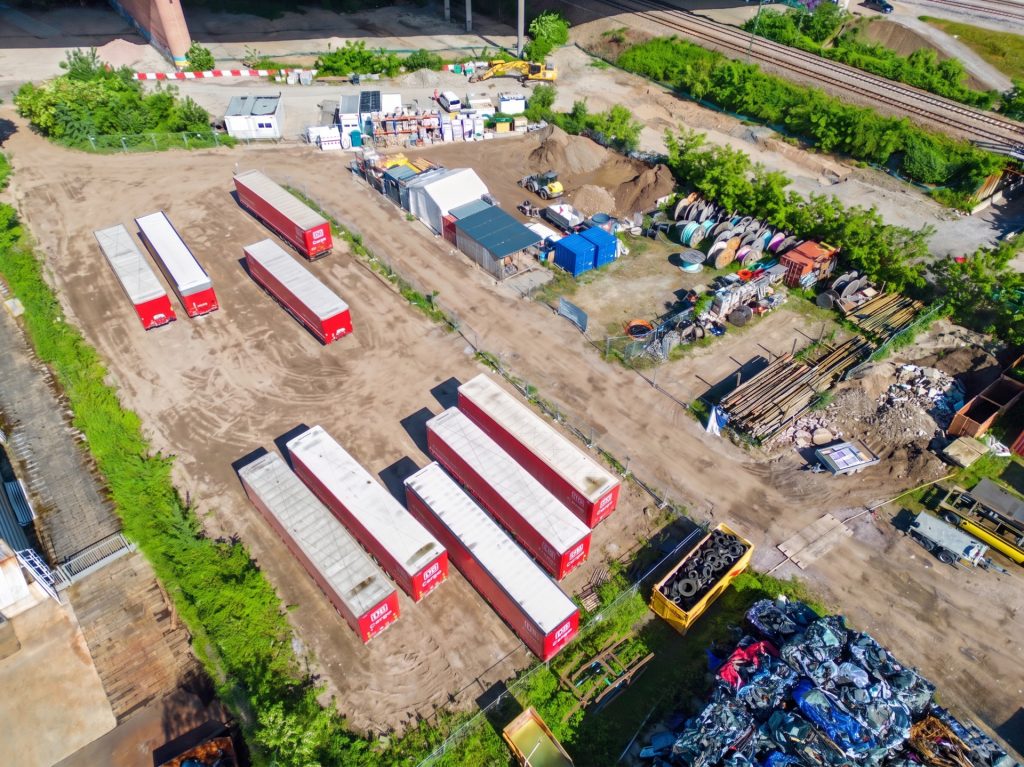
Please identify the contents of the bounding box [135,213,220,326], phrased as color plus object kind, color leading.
white trailer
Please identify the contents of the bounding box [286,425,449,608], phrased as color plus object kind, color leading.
white trailer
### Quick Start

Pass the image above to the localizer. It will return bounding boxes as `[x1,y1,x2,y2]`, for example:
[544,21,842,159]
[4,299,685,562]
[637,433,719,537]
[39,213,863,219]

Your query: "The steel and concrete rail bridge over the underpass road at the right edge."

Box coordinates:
[986,132,1024,177]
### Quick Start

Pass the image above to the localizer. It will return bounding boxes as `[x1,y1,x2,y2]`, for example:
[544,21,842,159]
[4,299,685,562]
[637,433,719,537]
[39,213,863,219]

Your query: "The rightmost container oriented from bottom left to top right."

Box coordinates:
[948,355,1024,451]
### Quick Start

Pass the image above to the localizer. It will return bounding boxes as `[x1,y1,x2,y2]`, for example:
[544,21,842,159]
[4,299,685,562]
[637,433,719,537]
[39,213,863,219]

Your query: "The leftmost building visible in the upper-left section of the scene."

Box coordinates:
[227,90,284,139]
